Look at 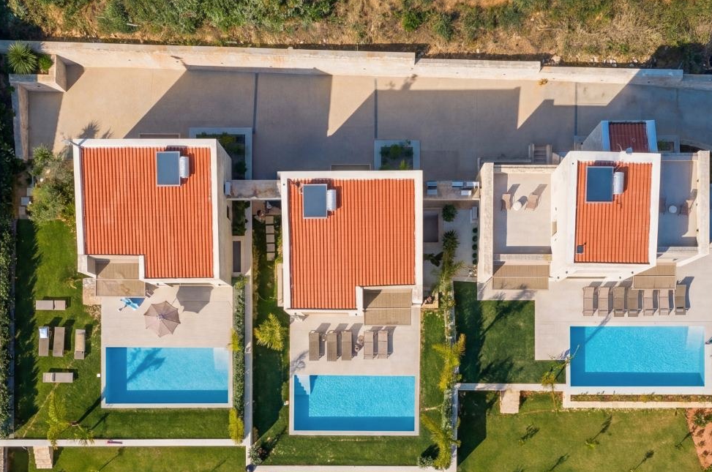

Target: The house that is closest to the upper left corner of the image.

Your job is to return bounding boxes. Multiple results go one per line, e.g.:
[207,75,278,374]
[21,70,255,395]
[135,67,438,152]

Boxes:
[74,138,232,289]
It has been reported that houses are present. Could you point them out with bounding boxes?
[474,120,712,287]
[74,138,232,289]
[278,170,422,318]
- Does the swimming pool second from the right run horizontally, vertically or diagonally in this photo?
horizontally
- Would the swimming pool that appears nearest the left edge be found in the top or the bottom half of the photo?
bottom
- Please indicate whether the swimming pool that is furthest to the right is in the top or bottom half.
bottom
